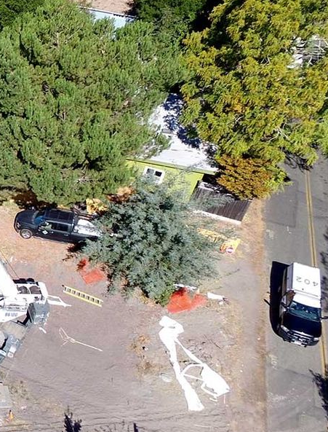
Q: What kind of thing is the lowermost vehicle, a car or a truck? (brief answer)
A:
truck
